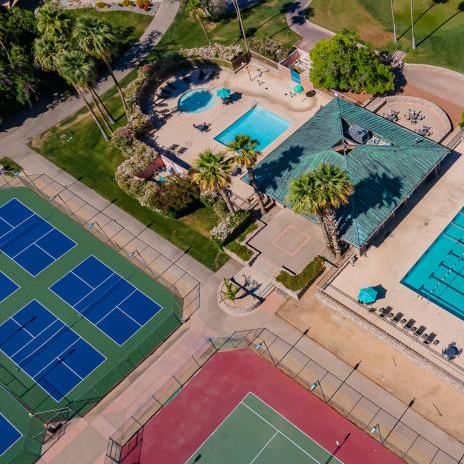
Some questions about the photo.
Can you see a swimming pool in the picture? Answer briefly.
Yes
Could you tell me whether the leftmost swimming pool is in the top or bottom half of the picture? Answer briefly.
top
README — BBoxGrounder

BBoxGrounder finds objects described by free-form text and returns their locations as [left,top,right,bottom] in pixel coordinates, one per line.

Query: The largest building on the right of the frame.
[240,91,450,258]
